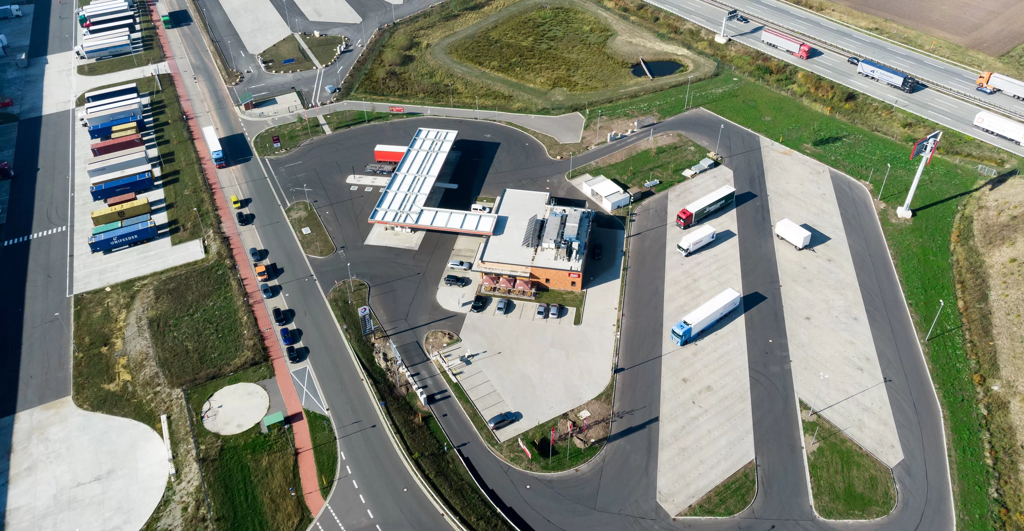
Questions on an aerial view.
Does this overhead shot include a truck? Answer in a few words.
Yes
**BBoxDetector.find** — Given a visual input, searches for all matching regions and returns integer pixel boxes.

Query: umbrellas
[481,275,499,290]
[497,277,515,292]
[515,279,532,294]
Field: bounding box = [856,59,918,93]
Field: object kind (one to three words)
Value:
truck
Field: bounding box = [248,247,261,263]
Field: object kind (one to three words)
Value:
vehicle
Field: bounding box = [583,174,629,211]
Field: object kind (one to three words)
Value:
building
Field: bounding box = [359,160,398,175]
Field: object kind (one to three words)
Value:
vehicle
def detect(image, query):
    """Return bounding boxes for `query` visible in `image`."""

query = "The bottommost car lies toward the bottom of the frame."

[492,414,520,430]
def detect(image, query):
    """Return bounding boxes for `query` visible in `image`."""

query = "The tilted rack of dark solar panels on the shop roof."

[524,220,540,254]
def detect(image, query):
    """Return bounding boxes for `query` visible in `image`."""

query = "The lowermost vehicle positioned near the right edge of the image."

[972,112,1024,148]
